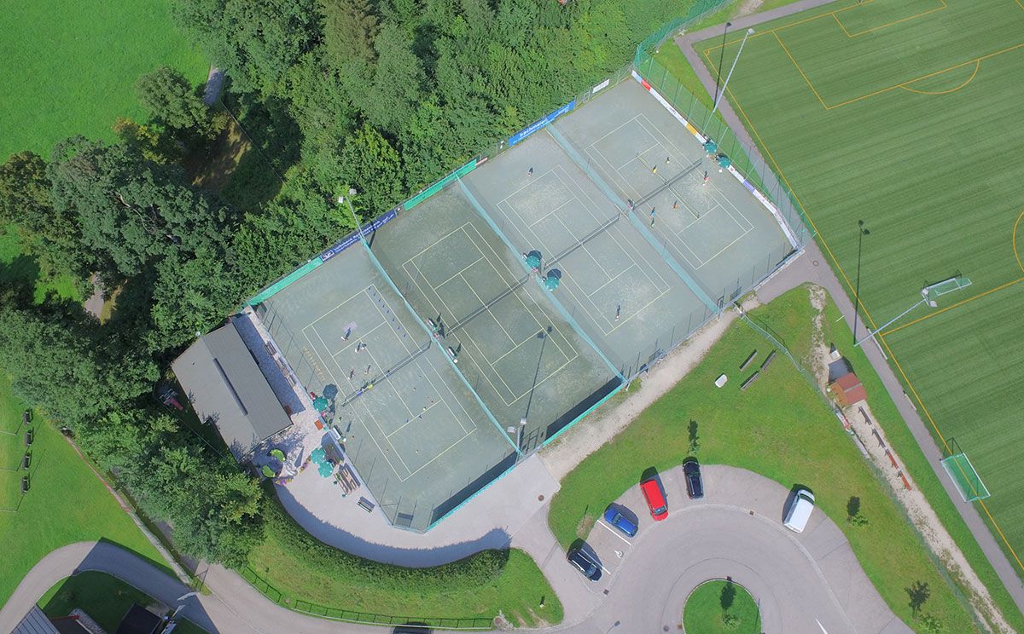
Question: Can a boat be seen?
No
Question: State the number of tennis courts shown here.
4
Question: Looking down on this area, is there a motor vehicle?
Yes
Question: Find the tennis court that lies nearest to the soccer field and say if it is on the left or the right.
right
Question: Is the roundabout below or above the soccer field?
below it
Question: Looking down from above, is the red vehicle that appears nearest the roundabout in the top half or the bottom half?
bottom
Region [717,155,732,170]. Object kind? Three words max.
umbrella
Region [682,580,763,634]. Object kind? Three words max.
roundabout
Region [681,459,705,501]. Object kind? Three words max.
car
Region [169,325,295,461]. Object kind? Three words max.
building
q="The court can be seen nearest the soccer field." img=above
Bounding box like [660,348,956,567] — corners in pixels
[553,75,798,308]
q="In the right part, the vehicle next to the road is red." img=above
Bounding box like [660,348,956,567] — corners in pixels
[637,477,670,524]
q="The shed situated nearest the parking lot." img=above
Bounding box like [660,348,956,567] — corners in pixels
[824,373,867,408]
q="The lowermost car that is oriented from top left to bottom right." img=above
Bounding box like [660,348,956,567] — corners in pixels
[566,543,606,582]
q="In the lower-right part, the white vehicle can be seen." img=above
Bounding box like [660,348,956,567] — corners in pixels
[781,490,816,537]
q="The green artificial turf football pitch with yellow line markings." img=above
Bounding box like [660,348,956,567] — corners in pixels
[685,0,1024,584]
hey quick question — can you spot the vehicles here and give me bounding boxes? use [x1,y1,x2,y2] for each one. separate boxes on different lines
[781,490,816,537]
[637,477,670,524]
[566,543,606,582]
[681,459,705,501]
[602,505,639,538]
